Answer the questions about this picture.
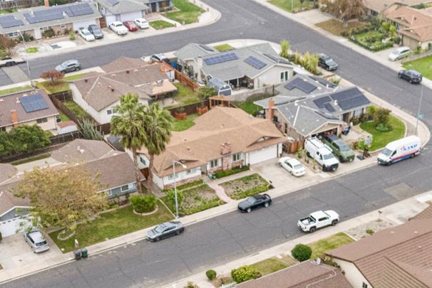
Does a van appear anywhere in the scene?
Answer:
Yes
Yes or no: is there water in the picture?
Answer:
No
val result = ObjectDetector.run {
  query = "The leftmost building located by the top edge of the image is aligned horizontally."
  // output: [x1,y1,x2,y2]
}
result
[0,0,104,46]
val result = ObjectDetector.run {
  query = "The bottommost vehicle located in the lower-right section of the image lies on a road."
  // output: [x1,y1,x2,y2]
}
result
[298,210,338,233]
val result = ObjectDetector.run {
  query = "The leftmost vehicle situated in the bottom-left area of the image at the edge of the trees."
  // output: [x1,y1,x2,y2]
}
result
[23,230,51,253]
